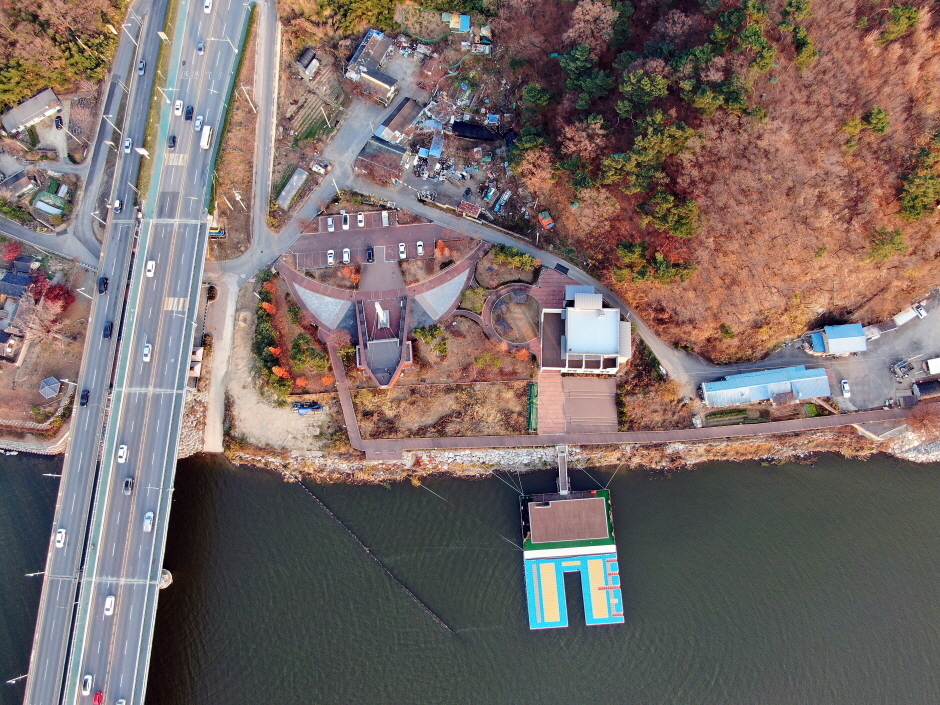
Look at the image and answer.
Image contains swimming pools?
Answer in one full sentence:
No, there is no swimming pool in the image.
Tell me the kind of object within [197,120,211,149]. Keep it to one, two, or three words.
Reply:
vehicle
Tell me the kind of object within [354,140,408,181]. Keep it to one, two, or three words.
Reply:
building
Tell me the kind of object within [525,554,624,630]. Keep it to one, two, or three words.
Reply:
pier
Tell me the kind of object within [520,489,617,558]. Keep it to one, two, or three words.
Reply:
pier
